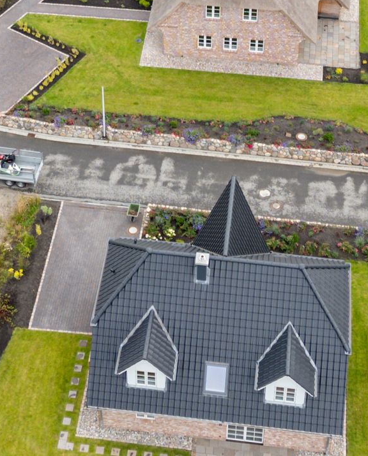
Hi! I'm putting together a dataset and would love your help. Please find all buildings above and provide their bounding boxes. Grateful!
[85,174,349,456]
[146,0,349,63]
